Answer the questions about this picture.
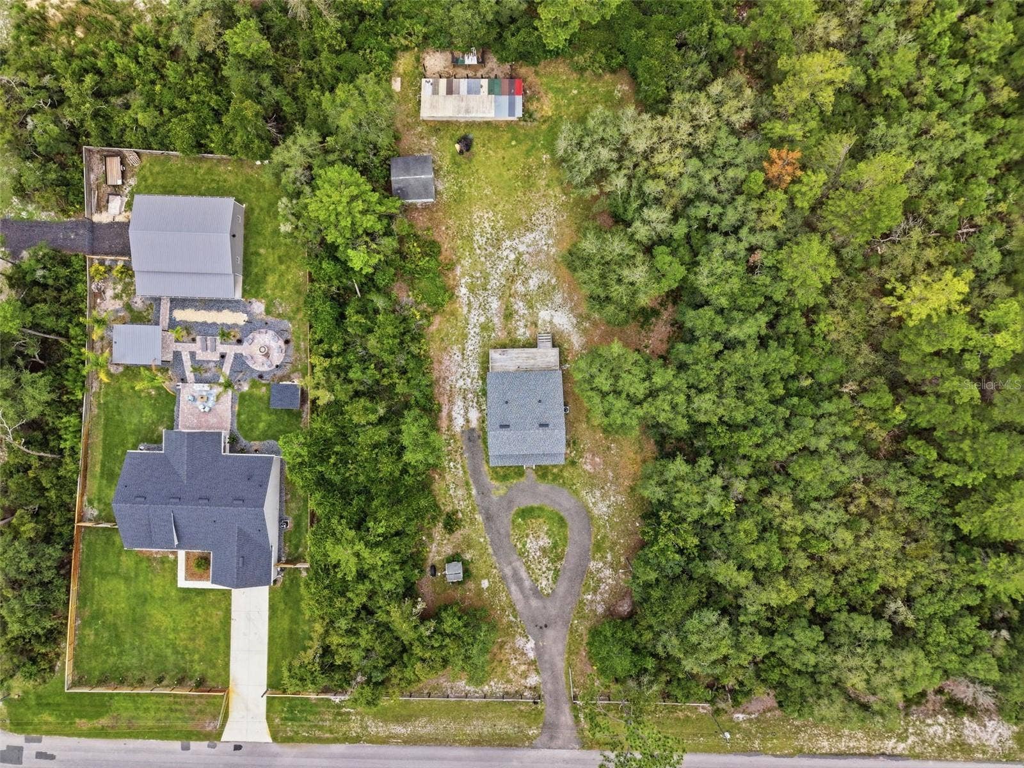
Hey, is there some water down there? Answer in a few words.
No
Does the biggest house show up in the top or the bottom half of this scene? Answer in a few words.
bottom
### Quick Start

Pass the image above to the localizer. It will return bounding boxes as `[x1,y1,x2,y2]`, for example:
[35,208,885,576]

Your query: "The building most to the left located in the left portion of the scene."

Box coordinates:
[108,325,168,366]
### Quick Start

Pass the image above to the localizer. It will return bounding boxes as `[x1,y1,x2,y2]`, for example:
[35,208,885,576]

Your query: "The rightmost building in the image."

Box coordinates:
[488,333,566,470]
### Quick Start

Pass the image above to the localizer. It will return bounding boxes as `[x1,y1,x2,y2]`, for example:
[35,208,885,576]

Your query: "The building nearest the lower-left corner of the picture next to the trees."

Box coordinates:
[112,429,279,589]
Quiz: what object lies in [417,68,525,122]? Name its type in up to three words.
barn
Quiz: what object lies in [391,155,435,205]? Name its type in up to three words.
shed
